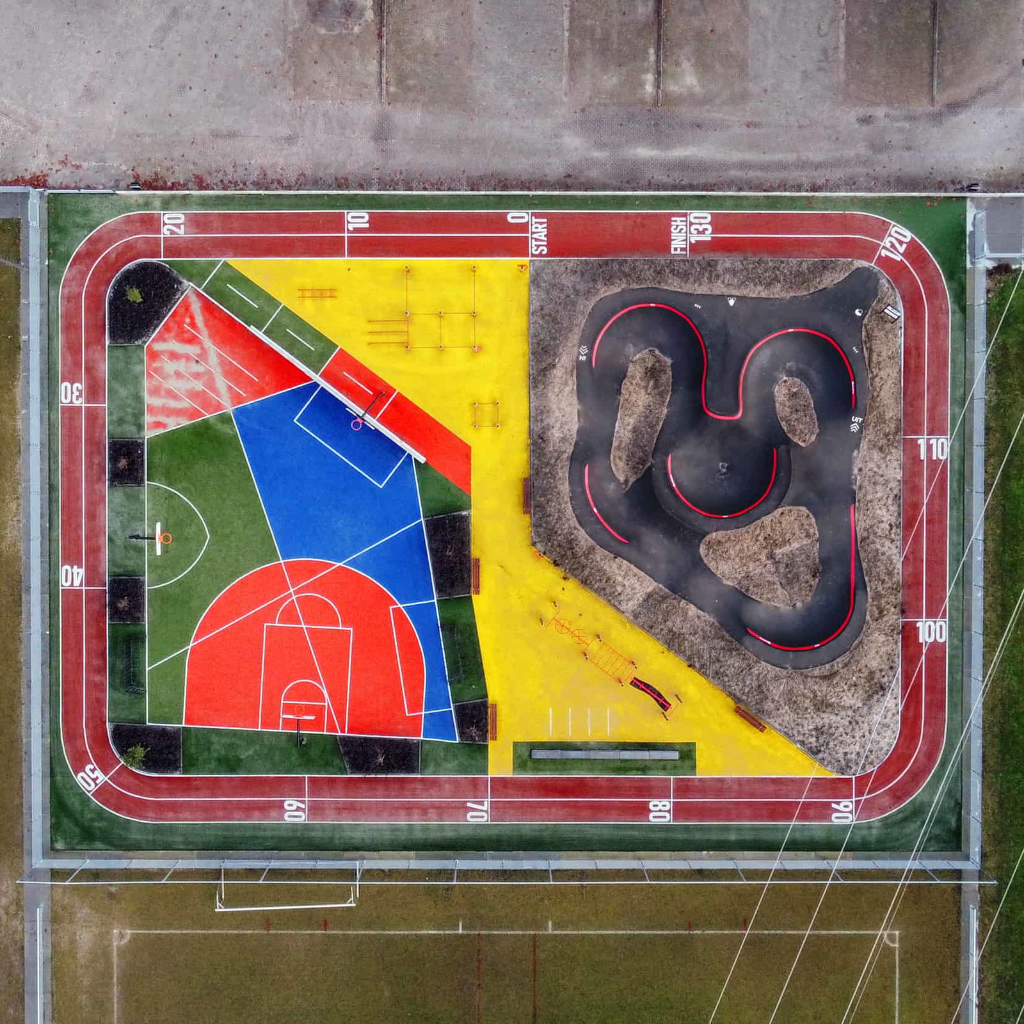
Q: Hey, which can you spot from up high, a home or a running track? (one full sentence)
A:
It is a running track that can be seen here.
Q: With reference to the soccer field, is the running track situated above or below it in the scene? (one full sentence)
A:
As seen from overhead, the running track falls above the soccer field in the picture.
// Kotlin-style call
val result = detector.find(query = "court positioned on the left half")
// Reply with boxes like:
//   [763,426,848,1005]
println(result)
[146,284,459,743]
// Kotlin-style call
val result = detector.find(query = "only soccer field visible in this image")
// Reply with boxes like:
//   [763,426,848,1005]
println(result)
[51,870,961,1024]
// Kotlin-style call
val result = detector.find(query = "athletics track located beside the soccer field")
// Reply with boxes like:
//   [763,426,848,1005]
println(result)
[59,211,951,824]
